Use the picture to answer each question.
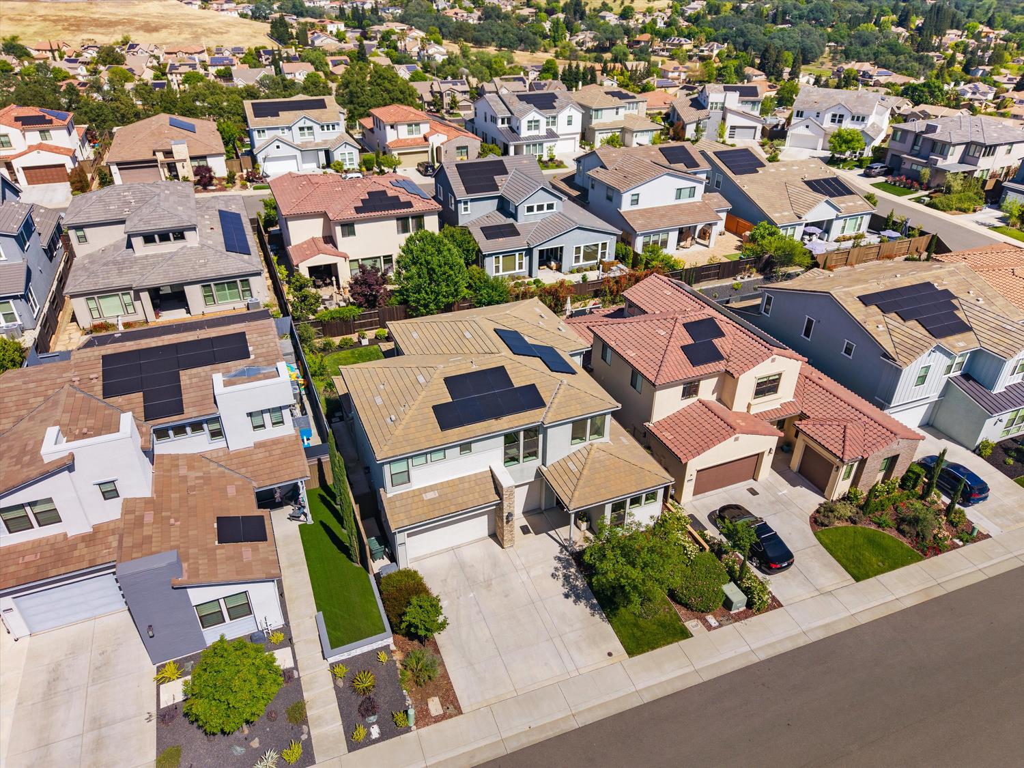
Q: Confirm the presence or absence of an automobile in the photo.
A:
Yes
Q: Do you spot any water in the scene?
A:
No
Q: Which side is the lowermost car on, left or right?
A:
right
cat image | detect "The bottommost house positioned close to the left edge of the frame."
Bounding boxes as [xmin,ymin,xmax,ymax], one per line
[0,301,315,664]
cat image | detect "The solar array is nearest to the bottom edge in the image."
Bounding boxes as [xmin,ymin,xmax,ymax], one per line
[216,513,268,543]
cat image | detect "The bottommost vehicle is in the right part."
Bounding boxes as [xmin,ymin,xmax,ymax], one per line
[721,502,800,561]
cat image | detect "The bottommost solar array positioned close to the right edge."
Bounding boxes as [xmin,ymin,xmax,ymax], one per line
[858,281,975,338]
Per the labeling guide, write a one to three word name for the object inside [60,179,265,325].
house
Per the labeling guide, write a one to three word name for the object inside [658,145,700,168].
solar array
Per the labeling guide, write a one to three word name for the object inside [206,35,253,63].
house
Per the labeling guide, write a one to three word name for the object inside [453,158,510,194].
solar array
